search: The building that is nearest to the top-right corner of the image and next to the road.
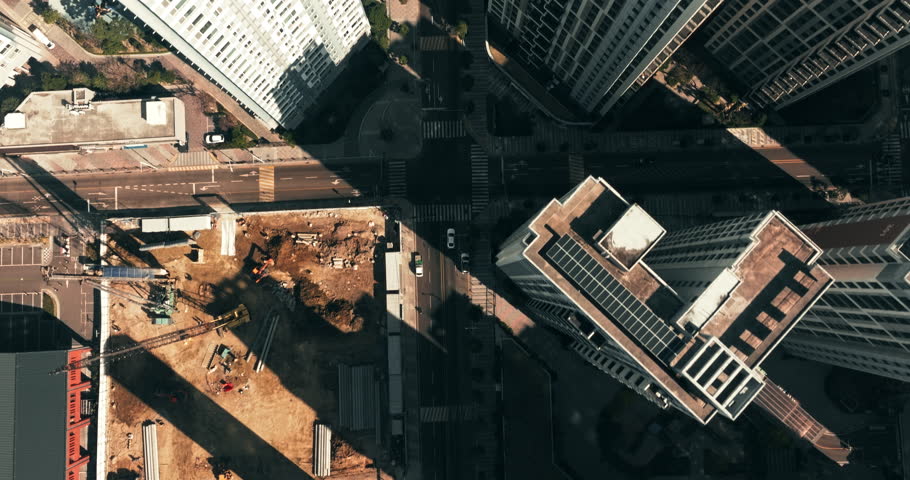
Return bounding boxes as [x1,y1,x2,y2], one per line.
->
[706,0,910,114]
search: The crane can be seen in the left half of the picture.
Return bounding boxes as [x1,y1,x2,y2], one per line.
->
[44,300,254,377]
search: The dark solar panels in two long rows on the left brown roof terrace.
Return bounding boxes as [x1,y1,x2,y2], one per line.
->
[544,234,691,371]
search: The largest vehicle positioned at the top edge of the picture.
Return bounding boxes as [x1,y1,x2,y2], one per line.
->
[25,21,53,52]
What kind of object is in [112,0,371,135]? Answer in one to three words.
building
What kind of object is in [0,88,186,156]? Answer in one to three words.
building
